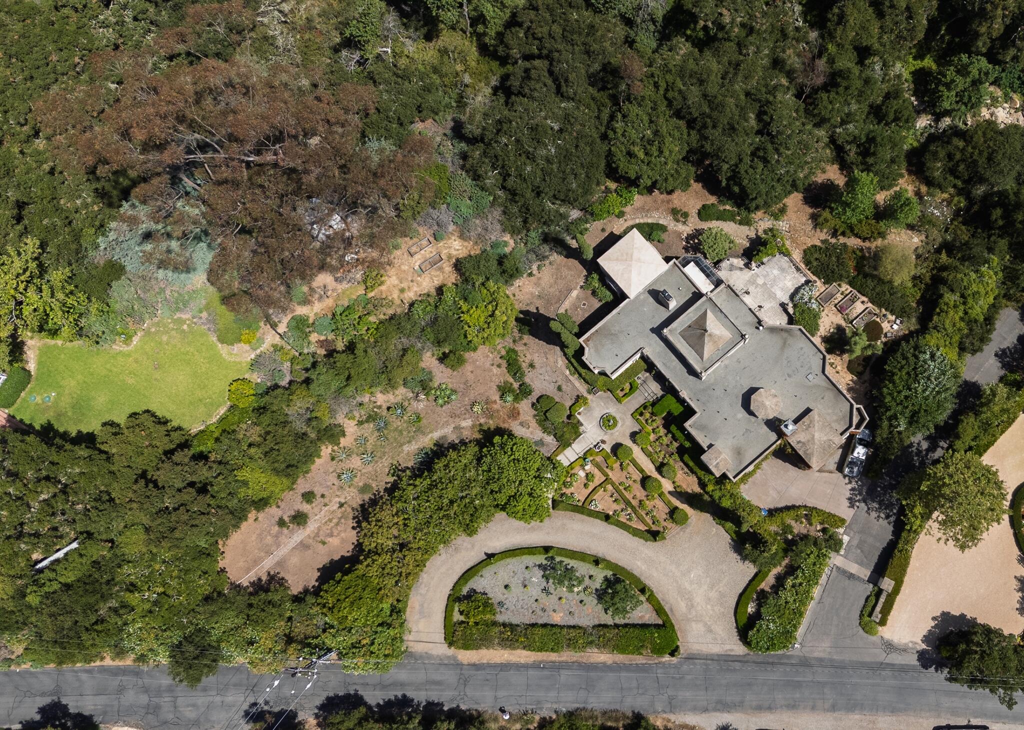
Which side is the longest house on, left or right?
right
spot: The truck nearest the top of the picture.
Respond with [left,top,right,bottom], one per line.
[844,428,874,479]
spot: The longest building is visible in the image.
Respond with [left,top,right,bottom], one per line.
[579,227,869,483]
